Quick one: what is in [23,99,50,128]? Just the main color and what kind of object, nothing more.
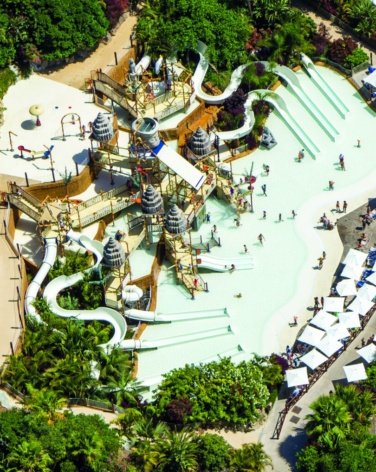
white fountain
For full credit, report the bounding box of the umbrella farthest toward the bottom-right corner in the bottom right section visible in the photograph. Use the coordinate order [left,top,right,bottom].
[342,365,368,390]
